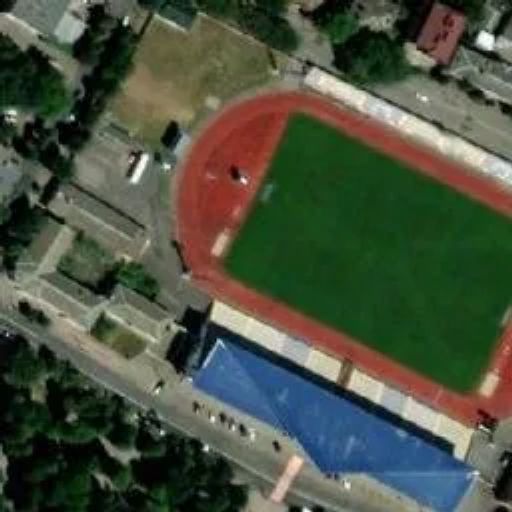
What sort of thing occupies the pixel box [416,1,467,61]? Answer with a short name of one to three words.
house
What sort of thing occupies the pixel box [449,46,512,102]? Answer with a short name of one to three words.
house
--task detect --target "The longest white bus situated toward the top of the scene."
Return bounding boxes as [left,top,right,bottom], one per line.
[130,153,150,184]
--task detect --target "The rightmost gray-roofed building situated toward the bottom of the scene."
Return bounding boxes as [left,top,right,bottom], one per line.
[102,283,170,341]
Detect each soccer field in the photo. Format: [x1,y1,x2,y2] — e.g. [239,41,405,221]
[222,110,512,400]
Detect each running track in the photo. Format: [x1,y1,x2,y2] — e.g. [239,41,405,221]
[172,91,512,428]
